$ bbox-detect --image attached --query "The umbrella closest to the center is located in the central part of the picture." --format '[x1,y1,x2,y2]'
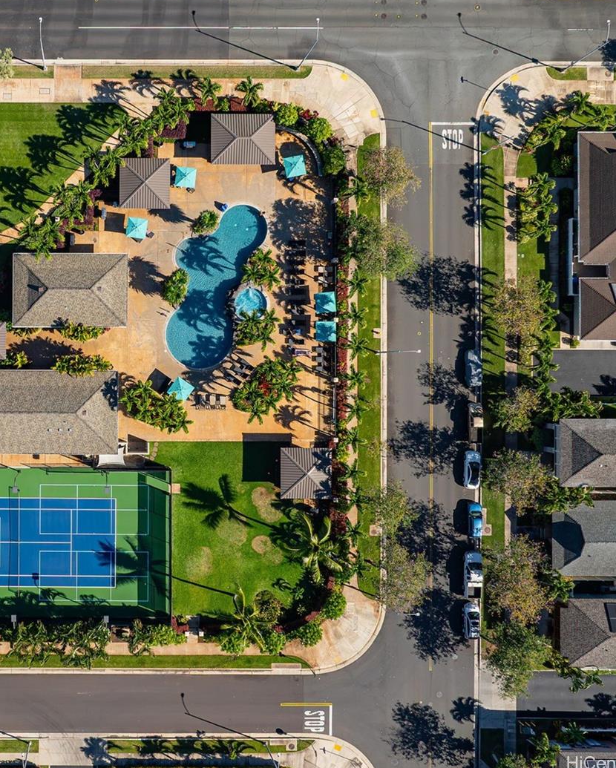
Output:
[313,320,335,342]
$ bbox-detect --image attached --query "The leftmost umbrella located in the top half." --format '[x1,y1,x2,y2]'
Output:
[125,217,147,239]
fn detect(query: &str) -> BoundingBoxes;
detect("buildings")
[118,158,171,210]
[550,596,616,668]
[538,419,616,487]
[568,131,616,340]
[277,447,332,500]
[0,370,118,455]
[542,501,616,577]
[0,320,7,361]
[209,113,276,168]
[12,253,129,328]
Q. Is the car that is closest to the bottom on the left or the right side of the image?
right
